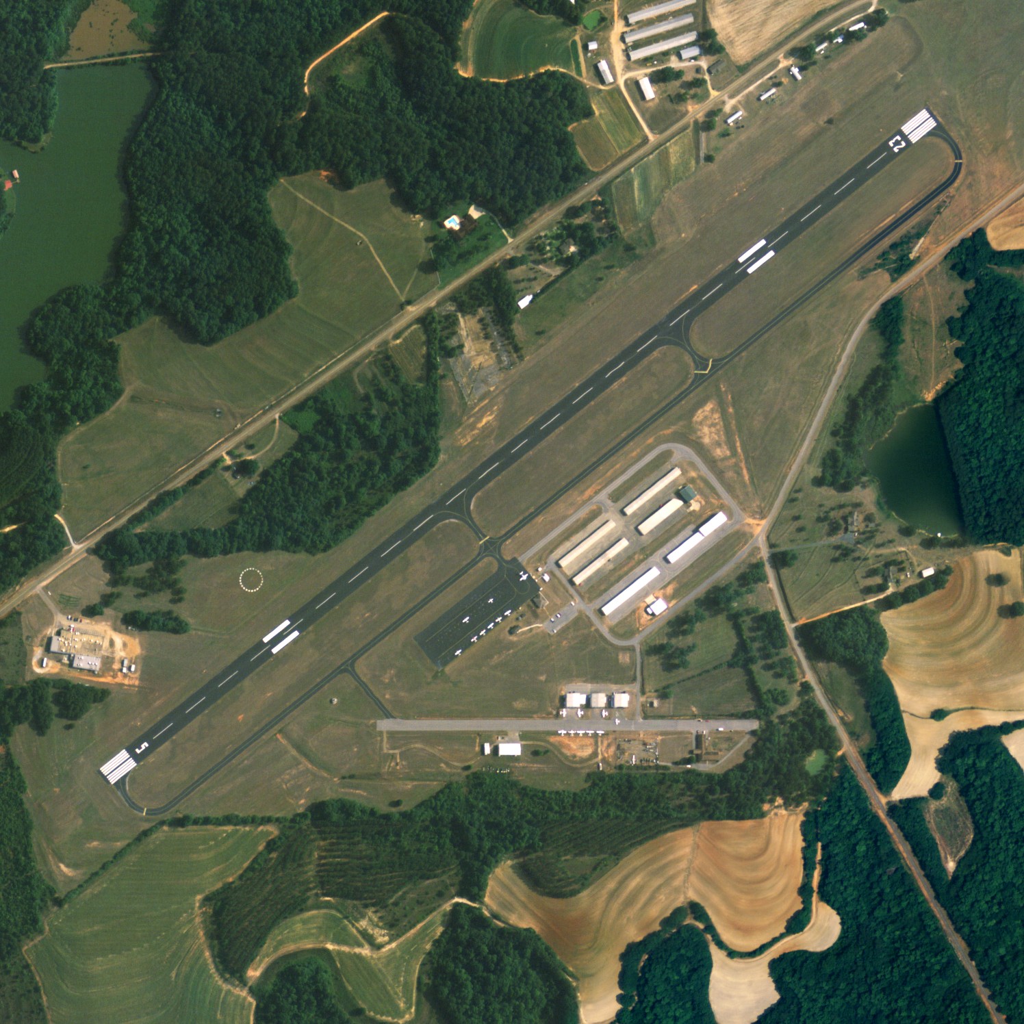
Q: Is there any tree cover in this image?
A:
Yes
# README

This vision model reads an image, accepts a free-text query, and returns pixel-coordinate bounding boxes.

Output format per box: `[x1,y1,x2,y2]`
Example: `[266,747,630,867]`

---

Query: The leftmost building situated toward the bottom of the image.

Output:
[49,630,104,673]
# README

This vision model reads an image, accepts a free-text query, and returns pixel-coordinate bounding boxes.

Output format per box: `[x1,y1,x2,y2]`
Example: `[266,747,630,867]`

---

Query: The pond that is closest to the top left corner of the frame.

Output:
[61,0,151,59]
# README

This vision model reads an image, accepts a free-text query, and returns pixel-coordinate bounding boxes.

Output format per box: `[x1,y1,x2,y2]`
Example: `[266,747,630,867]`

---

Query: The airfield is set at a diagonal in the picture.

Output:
[97,107,963,816]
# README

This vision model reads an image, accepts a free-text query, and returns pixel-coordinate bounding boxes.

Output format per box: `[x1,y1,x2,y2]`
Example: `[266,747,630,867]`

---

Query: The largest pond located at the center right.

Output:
[862,400,972,536]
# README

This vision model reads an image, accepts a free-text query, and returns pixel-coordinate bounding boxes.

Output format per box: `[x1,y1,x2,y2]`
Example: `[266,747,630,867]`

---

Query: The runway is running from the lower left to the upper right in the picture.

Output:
[97,107,940,787]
